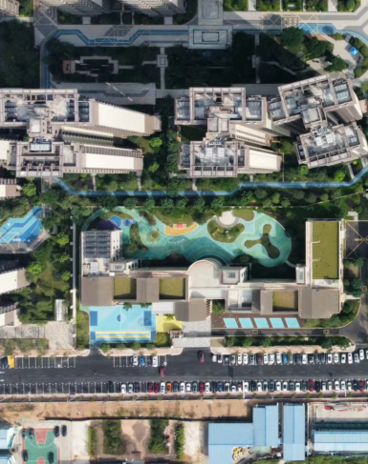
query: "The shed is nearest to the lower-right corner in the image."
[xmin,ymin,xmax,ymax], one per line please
[314,423,368,451]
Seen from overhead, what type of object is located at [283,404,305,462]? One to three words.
shed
